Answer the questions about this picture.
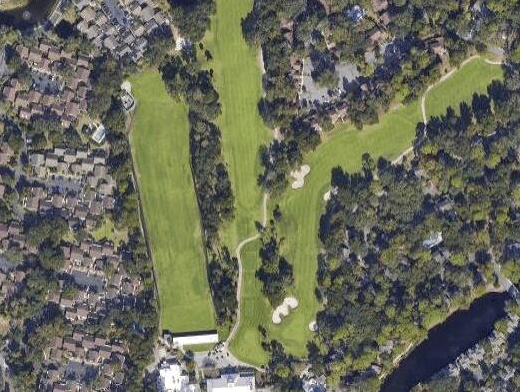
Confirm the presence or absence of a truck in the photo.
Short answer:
No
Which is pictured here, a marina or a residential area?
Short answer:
residential area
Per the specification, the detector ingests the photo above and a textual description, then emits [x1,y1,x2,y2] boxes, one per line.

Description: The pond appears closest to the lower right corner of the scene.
[381,291,512,392]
